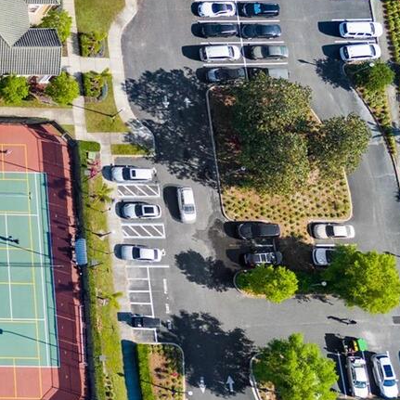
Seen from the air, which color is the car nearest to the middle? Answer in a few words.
white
